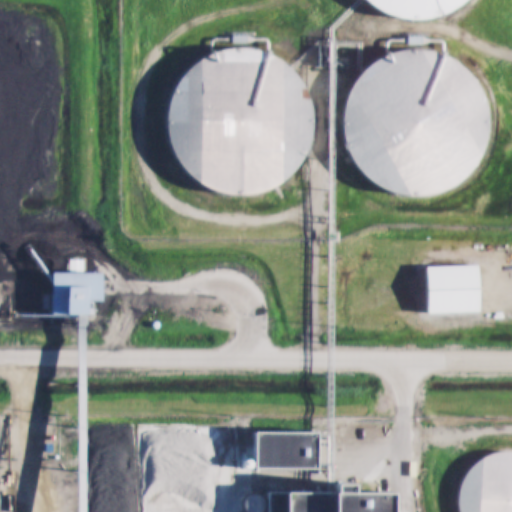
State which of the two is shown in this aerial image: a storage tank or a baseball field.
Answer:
storage tank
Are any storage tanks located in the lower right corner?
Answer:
Yes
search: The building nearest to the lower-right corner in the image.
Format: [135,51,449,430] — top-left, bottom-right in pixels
[340,484,398,512]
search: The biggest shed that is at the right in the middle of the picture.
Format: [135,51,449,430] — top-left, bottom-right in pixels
[427,265,480,314]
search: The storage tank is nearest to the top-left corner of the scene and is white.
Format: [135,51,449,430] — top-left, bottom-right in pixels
[168,32,318,200]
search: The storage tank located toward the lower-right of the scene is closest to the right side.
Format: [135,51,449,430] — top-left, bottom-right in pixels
[457,450,512,512]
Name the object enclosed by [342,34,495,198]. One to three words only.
storage tank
